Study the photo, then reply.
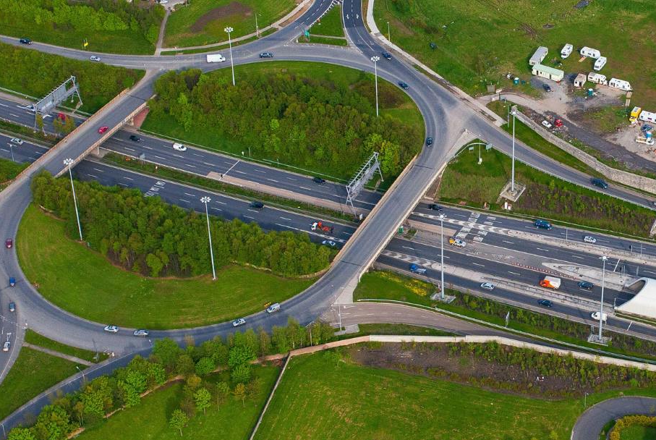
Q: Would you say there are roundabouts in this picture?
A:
Yes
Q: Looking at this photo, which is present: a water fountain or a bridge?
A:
bridge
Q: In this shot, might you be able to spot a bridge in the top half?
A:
Yes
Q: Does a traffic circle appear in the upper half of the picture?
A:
Yes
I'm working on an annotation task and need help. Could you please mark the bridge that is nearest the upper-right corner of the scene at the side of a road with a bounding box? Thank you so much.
[331,153,448,278]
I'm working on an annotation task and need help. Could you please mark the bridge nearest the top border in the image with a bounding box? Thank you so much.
[17,87,156,181]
